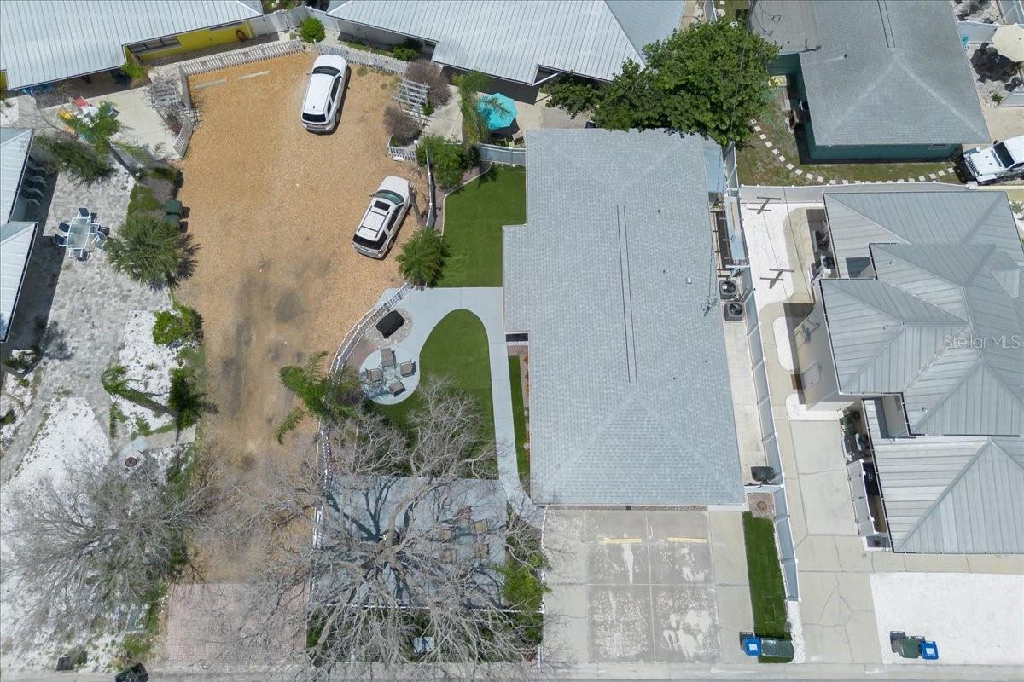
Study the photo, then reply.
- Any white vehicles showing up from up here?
Yes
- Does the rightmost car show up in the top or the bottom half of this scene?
top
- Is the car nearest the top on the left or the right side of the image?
left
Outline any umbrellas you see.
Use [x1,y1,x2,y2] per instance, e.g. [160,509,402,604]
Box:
[988,22,1024,79]
[472,95,523,147]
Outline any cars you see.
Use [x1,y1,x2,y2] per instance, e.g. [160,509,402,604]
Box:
[295,54,349,133]
[957,127,1024,183]
[349,176,412,258]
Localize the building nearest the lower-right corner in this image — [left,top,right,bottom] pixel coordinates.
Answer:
[796,189,1024,557]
